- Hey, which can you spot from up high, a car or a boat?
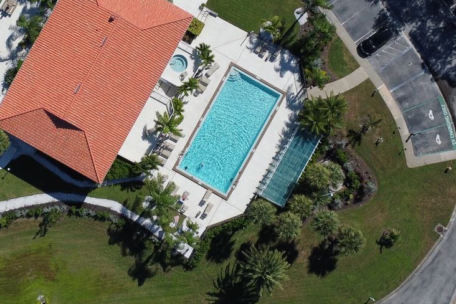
car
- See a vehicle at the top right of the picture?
Yes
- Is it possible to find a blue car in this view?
No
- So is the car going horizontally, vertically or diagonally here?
diagonally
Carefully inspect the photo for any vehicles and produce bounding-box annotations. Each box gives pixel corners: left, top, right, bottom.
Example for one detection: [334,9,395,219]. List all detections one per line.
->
[359,26,398,57]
